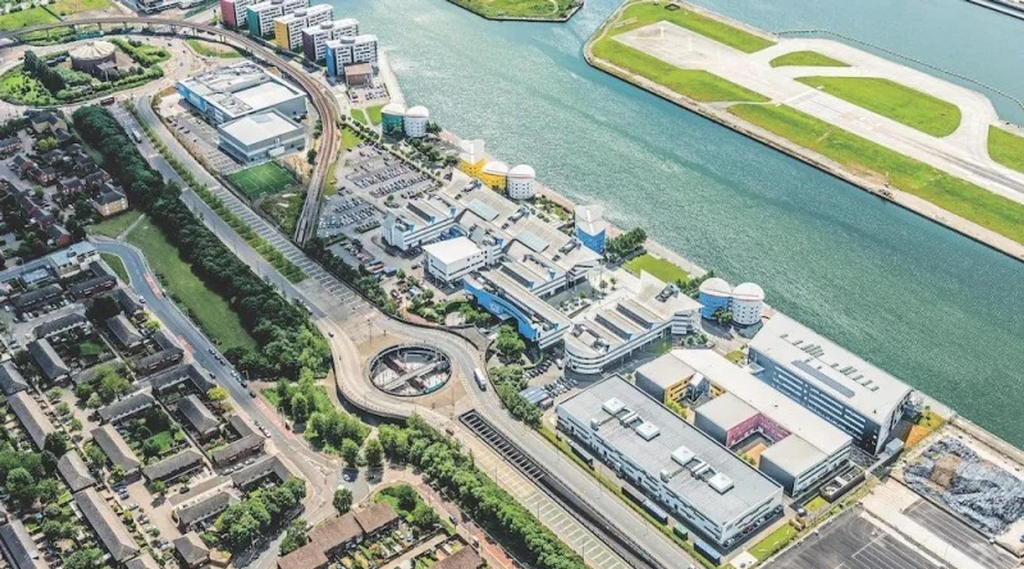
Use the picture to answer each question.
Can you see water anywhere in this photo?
Yes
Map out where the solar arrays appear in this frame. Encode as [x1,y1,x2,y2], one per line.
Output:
[788,353,852,392]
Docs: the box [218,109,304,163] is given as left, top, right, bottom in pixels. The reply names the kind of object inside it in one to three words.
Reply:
building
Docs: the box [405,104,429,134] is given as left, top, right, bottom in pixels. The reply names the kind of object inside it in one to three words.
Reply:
house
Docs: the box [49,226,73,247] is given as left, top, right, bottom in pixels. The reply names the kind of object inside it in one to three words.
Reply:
house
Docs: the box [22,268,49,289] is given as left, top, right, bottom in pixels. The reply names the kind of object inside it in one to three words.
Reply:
building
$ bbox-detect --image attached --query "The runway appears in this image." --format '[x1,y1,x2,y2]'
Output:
[612,20,1024,204]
